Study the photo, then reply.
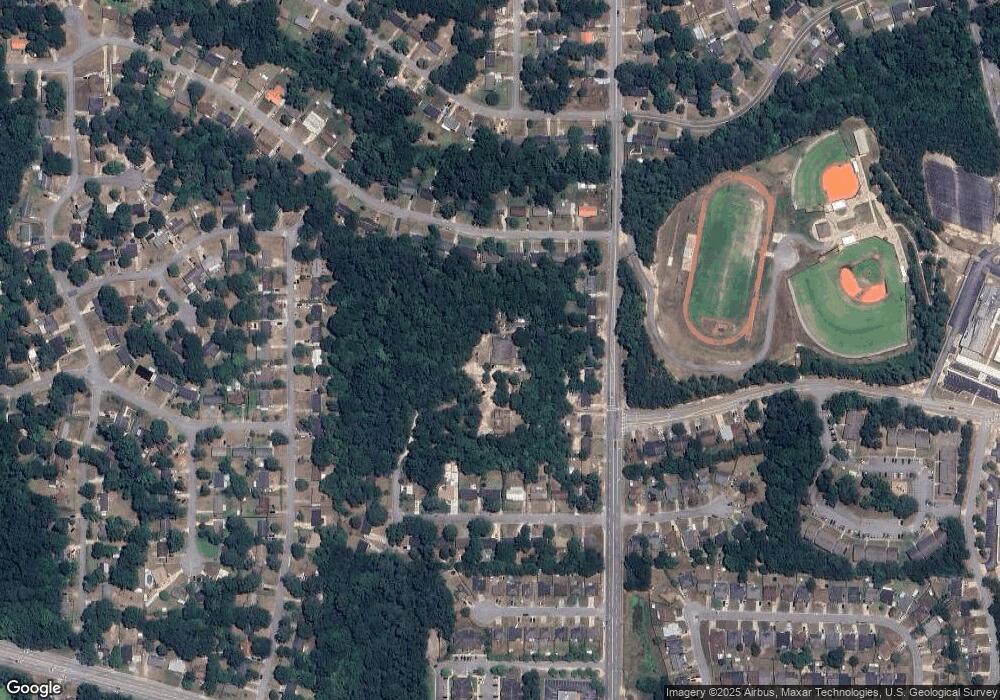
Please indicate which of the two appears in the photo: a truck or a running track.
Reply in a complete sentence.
It is a running track that can be seen here.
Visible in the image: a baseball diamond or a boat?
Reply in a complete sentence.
There is a baseball diamond in the scene.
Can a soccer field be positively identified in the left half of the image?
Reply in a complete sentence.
No, the scene shows no soccer field in the left half of the image.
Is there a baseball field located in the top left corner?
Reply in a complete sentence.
No, I see no baseball field in the top left corner.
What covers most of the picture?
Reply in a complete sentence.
Most of the picture is covered by trees.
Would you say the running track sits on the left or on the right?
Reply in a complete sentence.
The running track sits on the right side.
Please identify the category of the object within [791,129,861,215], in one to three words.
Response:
baseball field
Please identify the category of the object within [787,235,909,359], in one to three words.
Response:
baseball field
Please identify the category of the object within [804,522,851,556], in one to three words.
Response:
building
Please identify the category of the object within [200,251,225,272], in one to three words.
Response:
house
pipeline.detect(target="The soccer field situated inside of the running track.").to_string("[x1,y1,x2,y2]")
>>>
[692,180,763,314]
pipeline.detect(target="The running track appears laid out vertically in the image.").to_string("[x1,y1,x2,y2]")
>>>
[683,172,772,346]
